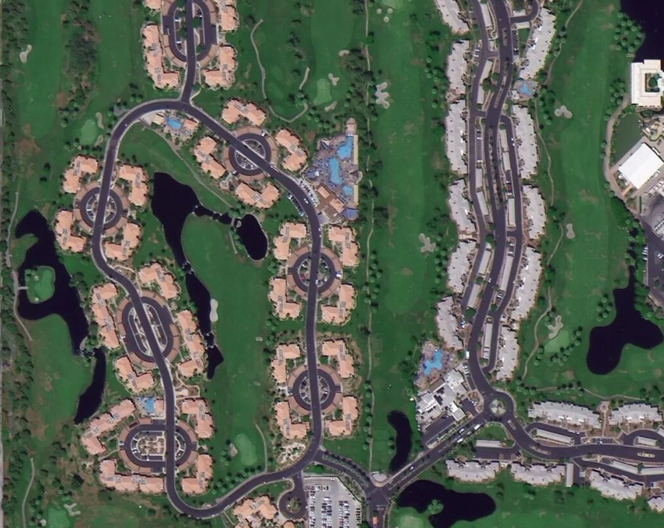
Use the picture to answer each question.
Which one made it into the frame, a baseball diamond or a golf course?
golf course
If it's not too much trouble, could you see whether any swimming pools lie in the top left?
Yes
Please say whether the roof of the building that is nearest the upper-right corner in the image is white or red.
white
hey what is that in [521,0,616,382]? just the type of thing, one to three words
golf course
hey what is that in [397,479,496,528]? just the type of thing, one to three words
pond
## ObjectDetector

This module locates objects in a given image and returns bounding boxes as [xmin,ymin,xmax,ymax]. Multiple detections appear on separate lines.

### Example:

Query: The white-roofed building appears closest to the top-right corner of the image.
[632,58,664,107]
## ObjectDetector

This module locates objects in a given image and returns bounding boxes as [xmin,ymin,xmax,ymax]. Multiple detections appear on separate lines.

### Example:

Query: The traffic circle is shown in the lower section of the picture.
[481,390,515,422]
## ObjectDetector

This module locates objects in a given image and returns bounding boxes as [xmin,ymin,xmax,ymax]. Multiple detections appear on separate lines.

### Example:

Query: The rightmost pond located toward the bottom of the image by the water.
[586,265,664,375]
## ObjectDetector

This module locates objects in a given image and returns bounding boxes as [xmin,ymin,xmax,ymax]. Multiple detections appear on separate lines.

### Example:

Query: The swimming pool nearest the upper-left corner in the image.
[162,113,197,139]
